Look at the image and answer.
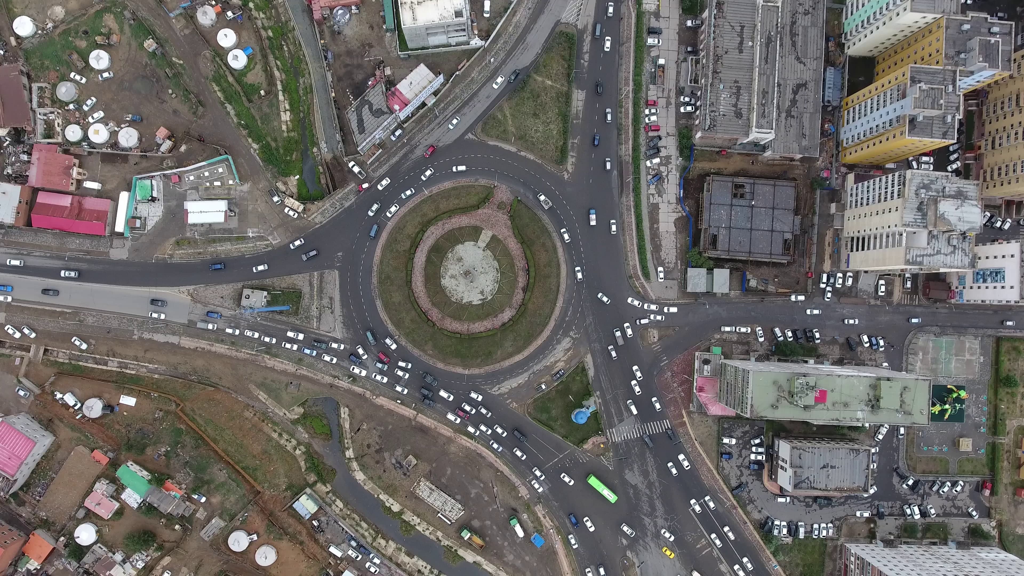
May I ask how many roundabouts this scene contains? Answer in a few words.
one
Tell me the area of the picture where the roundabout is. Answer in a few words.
center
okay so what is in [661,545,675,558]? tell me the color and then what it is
yellow vehicle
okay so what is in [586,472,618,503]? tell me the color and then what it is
green bus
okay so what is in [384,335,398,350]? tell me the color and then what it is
white vehicle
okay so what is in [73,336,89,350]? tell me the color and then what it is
white car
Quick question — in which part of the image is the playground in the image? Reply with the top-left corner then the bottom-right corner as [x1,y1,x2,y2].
[908,334,1005,472]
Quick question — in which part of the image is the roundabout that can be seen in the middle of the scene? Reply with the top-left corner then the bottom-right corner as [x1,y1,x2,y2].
[374,179,565,371]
